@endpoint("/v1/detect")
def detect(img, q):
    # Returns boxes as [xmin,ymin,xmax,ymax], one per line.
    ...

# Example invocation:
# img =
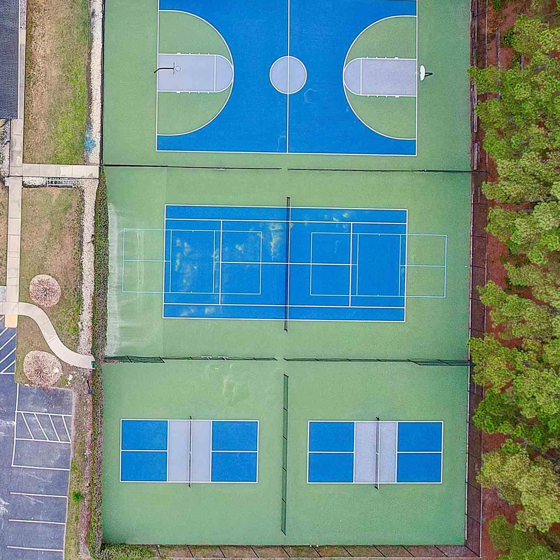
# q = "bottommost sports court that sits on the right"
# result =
[282,361,467,547]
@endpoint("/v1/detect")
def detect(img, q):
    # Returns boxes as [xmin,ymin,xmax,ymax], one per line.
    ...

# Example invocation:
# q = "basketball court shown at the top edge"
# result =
[106,0,472,170]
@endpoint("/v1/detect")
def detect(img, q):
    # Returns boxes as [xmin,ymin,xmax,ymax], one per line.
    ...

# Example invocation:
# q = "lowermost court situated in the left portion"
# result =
[102,360,284,547]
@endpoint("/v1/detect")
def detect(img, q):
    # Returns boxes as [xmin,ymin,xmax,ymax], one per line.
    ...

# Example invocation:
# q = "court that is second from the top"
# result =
[105,166,470,361]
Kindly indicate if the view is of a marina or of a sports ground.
sports ground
